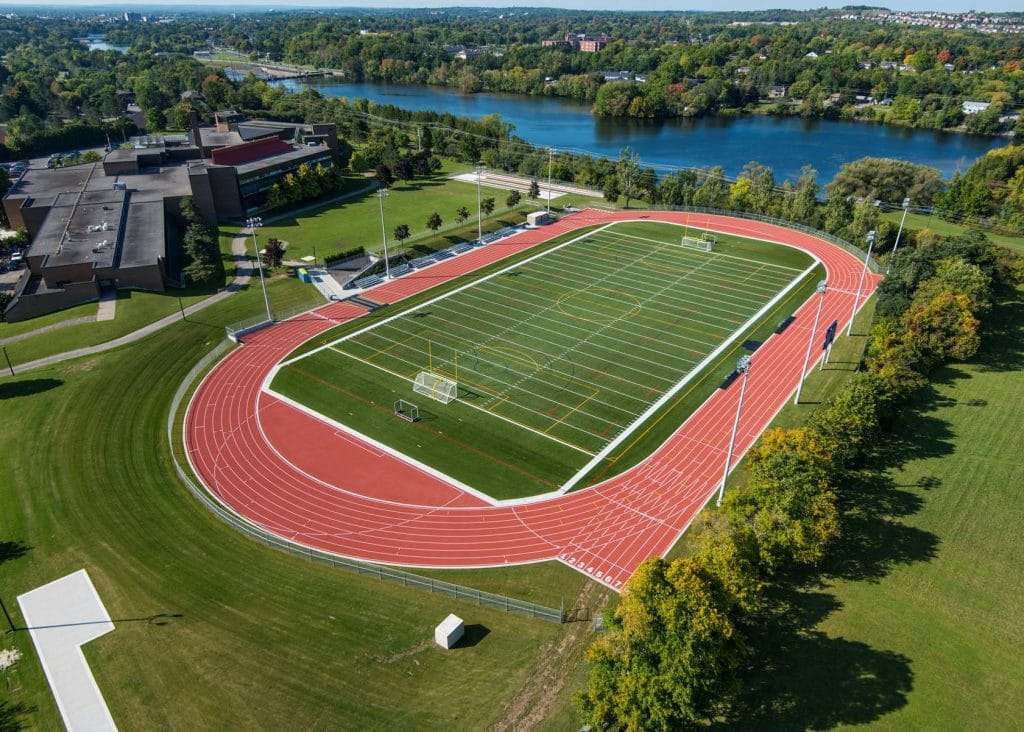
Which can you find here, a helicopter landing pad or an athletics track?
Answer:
athletics track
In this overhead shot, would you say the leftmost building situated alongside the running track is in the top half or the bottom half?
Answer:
top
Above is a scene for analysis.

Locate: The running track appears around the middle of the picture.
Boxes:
[185,206,878,595]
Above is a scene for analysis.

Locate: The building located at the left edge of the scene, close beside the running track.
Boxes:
[0,110,340,321]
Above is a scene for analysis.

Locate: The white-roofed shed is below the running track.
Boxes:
[434,611,463,648]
